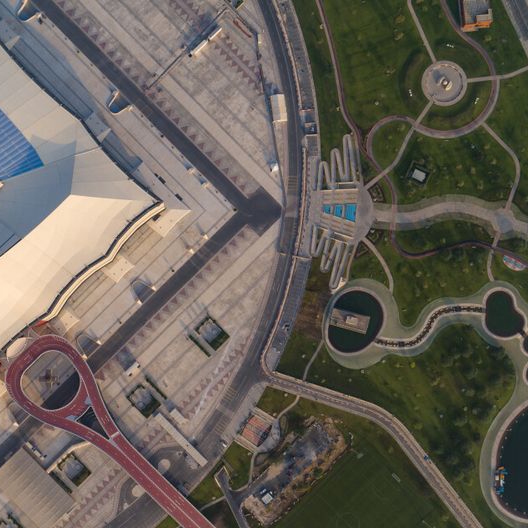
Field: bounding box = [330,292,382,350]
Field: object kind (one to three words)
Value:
pond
